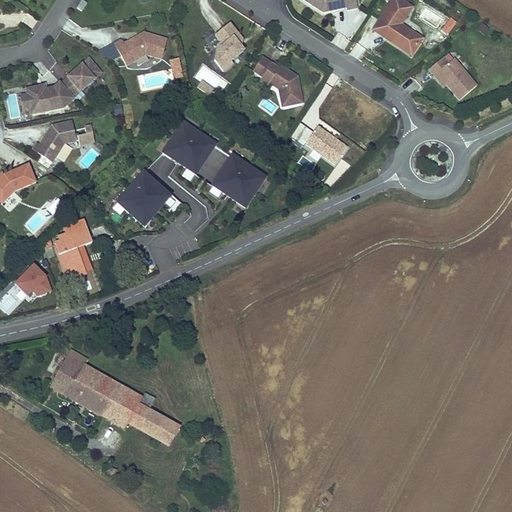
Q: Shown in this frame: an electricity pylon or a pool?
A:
pool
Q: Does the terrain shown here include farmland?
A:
Yes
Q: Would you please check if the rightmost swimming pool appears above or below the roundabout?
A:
above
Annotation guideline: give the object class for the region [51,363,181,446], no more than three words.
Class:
building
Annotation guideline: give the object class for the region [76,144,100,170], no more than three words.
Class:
swimming pool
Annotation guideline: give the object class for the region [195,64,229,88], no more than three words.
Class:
shed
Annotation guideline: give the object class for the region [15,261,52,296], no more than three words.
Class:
house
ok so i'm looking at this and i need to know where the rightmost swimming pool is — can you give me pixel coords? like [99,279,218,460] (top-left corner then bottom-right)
[416,1,449,48]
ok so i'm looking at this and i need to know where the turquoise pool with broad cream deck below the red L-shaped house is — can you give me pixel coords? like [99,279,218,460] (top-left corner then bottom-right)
[138,69,173,93]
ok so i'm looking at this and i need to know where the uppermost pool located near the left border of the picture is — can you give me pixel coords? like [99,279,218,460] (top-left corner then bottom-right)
[4,88,22,122]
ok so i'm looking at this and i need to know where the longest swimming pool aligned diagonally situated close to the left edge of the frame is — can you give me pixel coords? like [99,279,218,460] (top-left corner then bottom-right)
[24,197,60,232]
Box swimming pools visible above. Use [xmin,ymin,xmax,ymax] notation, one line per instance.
[76,144,100,170]
[416,1,449,48]
[258,98,279,116]
[138,69,173,93]
[297,156,315,170]
[4,88,22,122]
[24,197,60,232]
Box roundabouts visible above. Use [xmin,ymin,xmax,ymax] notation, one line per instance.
[395,125,469,198]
